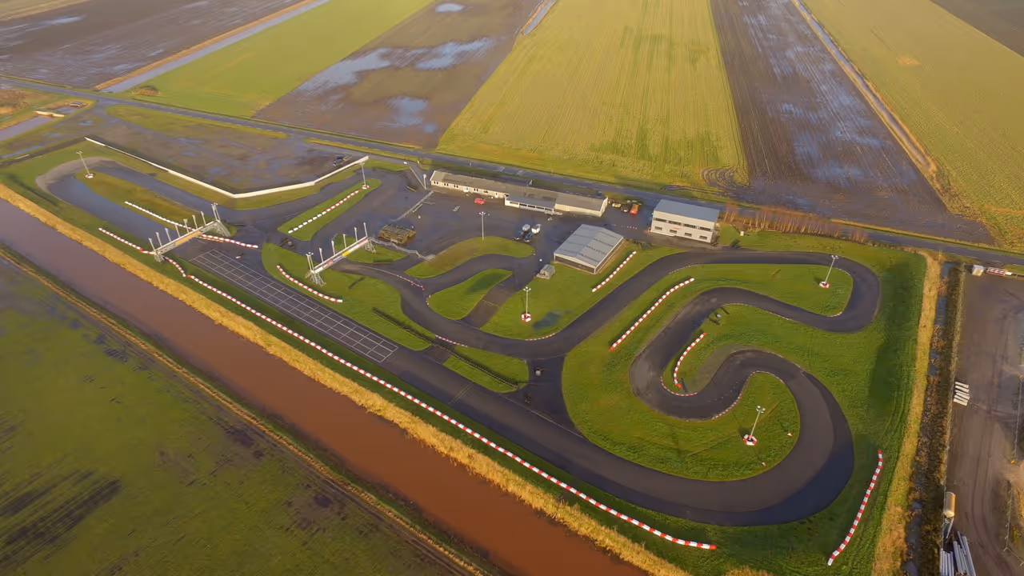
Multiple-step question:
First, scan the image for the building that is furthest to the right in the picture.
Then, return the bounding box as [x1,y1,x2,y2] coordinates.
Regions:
[652,193,721,243]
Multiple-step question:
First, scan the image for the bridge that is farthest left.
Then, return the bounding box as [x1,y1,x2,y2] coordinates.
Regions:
[151,207,232,265]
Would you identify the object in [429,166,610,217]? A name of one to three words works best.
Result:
house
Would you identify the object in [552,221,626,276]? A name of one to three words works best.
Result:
building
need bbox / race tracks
[49,163,880,526]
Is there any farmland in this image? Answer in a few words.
Yes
